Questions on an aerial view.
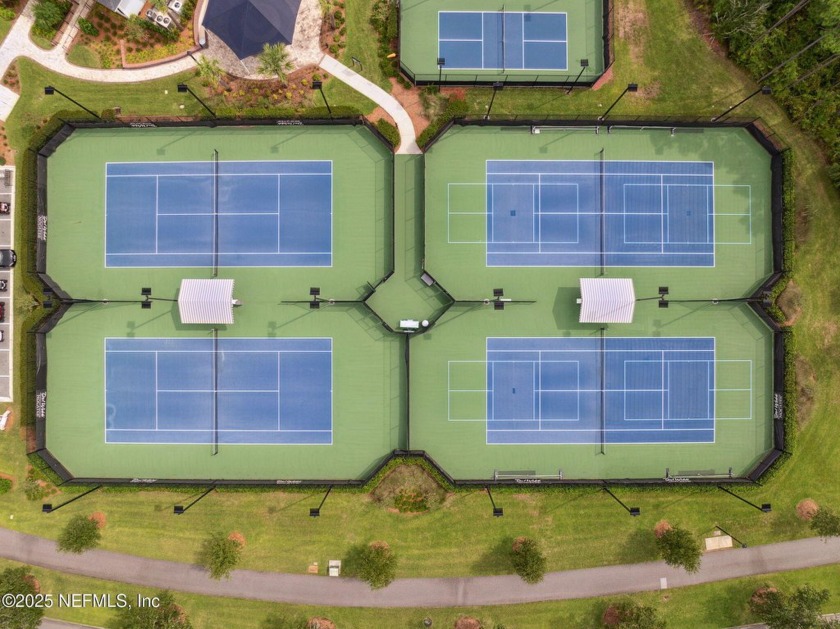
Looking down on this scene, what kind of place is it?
sports ground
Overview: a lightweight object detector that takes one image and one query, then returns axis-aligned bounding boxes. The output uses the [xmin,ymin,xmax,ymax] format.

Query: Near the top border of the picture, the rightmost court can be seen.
[401,0,605,86]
